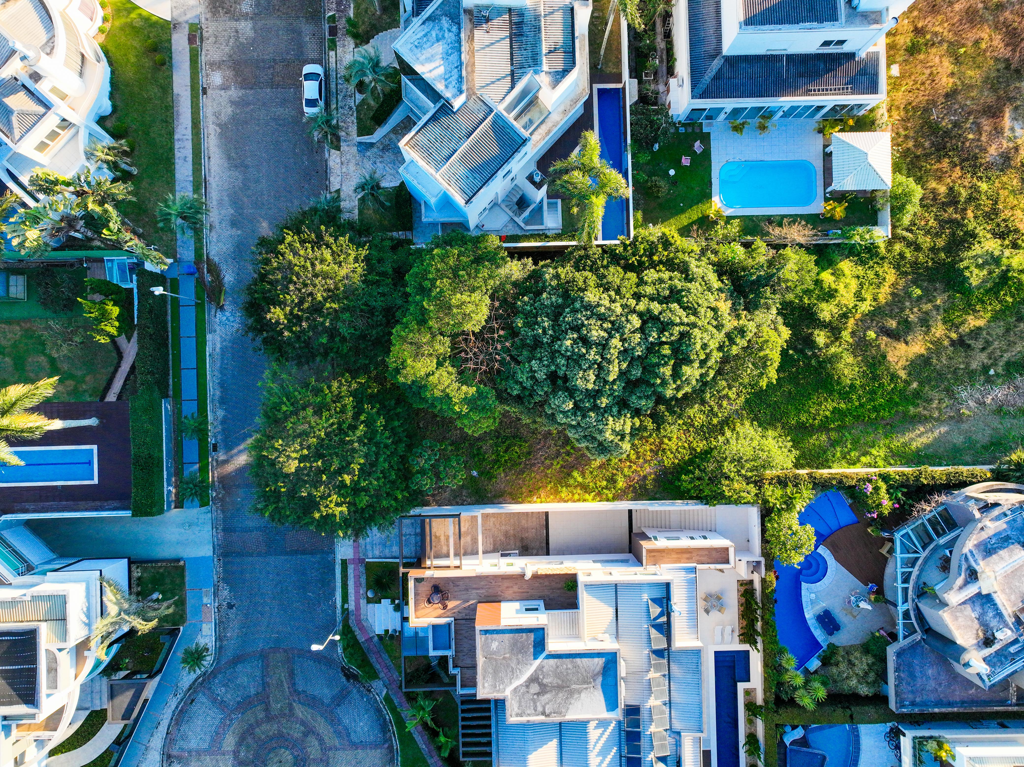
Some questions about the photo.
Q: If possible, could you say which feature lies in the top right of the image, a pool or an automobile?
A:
pool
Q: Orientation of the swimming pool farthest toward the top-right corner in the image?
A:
horizontally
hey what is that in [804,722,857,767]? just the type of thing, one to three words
swimming pool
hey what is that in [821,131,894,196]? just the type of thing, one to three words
building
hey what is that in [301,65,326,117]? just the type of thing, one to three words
car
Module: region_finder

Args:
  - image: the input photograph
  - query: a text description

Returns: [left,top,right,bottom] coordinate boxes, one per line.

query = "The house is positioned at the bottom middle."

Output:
[404,510,765,767]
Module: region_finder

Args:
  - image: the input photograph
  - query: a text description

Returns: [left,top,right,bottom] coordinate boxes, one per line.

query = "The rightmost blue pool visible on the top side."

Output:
[718,158,818,208]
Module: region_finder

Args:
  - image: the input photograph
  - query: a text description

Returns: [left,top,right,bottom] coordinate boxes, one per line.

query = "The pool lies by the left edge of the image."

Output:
[0,445,98,487]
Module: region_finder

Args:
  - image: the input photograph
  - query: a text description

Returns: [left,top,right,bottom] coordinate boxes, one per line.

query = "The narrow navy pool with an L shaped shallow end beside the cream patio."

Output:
[710,646,751,767]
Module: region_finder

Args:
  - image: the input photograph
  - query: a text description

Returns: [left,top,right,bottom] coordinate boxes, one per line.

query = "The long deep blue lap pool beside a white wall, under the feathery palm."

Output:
[597,88,626,241]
